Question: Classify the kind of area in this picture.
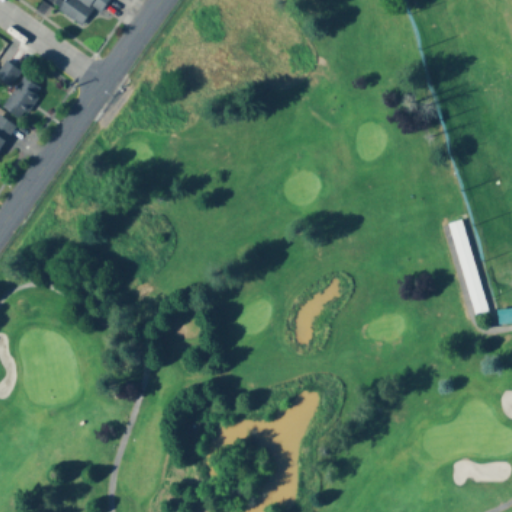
golf course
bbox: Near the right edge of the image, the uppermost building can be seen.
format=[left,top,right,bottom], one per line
[449,219,490,314]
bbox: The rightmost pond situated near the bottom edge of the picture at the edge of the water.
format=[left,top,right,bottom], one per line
[220,390,320,512]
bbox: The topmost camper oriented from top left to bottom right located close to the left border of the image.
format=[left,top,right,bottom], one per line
[6,26,28,44]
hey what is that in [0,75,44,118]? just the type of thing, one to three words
house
